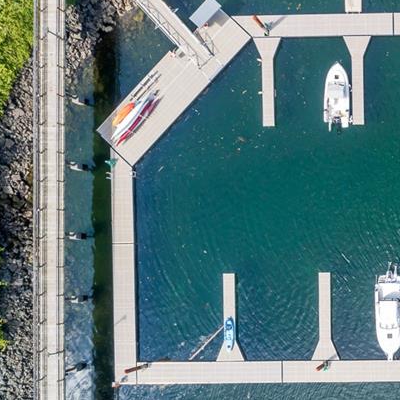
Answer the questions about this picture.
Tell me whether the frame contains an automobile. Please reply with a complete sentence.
No, I find no automobile anywhere in the image.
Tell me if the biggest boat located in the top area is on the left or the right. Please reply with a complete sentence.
You can find the biggest boat located in the top area on the right side of the picture.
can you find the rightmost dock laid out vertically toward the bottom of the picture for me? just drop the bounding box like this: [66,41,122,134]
[311,272,340,360]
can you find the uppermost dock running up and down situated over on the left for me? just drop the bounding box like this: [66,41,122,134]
[111,152,137,244]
